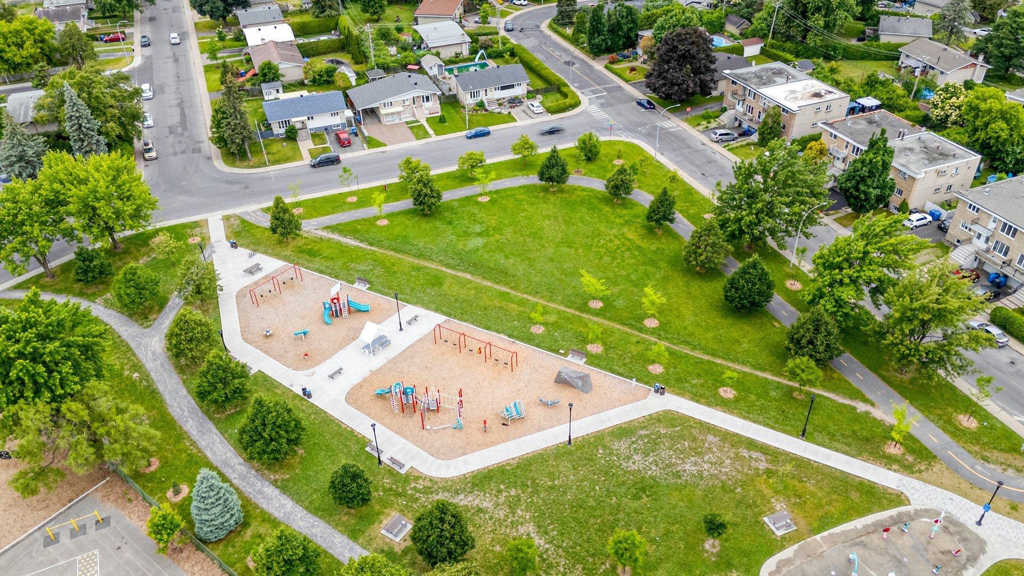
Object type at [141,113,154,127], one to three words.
vehicle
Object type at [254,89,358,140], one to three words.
house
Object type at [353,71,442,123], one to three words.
house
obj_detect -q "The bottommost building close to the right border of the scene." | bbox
[939,172,1024,285]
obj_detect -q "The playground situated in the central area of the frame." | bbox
[285,264,654,389]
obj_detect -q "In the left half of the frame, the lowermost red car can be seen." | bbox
[336,132,351,145]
